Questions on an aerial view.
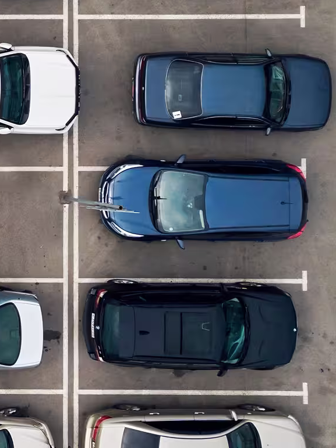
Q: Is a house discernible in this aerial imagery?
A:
No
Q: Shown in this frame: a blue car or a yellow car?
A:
blue car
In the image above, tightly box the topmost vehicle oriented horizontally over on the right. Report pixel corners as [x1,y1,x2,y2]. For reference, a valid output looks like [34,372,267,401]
[131,43,332,138]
